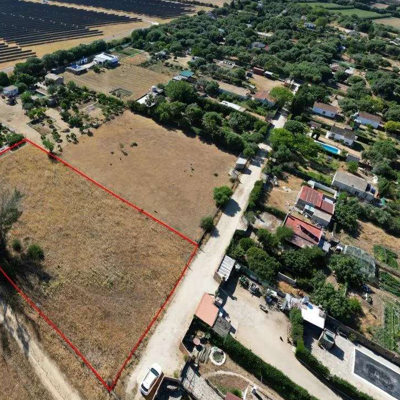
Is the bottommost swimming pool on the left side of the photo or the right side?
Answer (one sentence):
The bottommost swimming pool sits on the right side.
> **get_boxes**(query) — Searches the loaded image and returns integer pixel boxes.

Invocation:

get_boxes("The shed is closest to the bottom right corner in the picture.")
[315,326,338,348]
